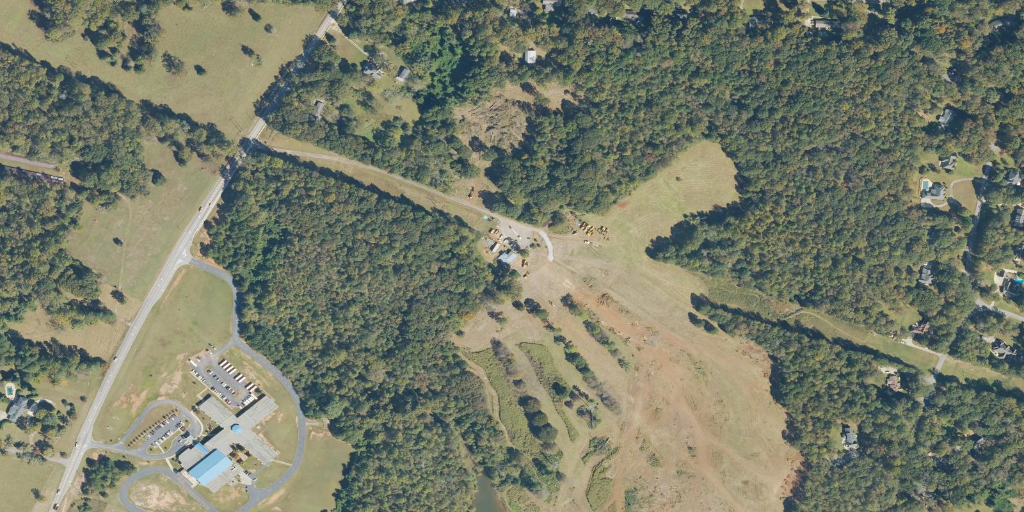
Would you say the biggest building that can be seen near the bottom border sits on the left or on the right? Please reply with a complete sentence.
It is on the left.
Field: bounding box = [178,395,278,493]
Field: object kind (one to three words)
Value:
building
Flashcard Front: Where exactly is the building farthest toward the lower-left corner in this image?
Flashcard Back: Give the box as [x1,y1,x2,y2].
[6,394,28,423]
